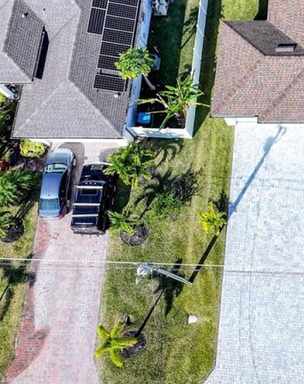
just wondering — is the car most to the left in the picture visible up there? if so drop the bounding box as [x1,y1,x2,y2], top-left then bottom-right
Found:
[36,147,77,221]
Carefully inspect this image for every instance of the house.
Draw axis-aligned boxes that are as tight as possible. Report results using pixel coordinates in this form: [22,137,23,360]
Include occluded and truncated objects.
[0,0,156,148]
[211,0,304,132]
